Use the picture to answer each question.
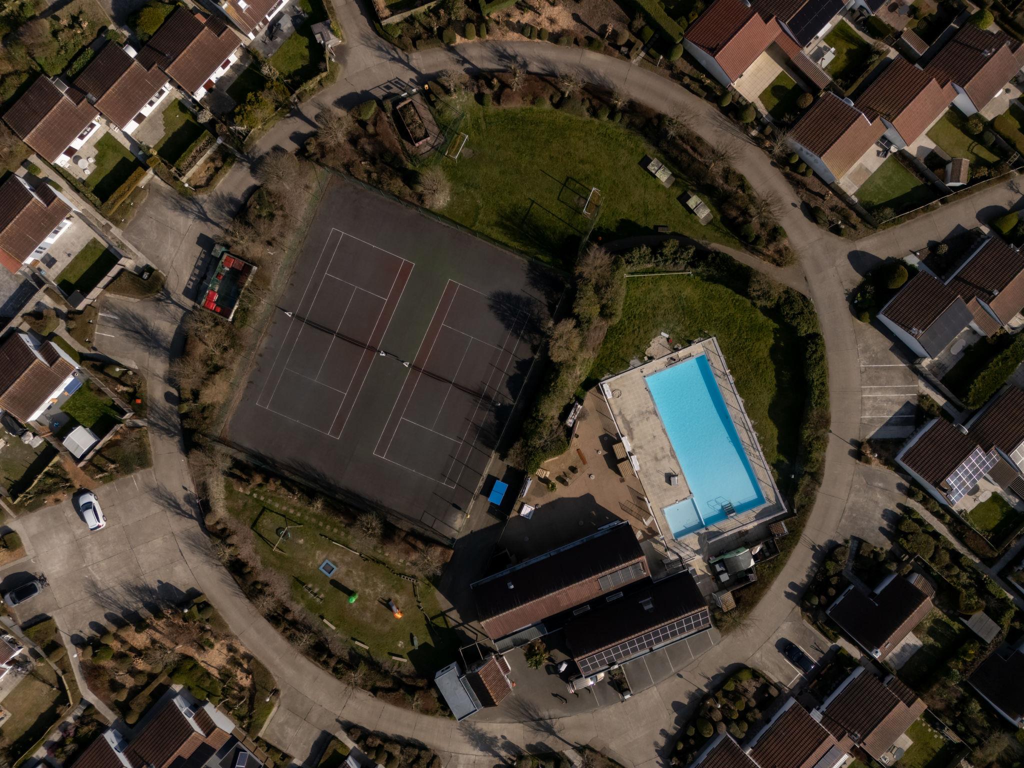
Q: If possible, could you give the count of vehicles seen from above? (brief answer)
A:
4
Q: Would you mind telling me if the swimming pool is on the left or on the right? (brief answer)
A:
right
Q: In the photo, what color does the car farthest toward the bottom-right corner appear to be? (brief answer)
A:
black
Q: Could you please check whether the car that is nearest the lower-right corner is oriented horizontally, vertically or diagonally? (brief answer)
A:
diagonally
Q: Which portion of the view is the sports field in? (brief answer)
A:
top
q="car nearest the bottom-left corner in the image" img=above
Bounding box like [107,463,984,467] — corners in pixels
[6,577,47,605]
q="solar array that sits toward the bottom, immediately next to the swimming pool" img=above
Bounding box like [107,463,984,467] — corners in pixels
[578,610,710,672]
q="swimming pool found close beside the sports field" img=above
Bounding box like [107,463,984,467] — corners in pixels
[601,337,788,561]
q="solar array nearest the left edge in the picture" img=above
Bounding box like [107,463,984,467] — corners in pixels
[174,736,222,768]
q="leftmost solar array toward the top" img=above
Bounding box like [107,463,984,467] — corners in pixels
[788,0,835,48]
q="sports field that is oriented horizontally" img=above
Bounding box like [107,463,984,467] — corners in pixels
[417,99,769,275]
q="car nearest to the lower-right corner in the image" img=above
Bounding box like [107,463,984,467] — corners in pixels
[781,643,814,677]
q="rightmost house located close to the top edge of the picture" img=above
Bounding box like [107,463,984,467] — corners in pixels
[922,23,1024,118]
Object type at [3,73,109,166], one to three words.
house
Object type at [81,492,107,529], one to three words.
car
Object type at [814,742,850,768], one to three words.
solar array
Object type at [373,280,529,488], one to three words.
tennis court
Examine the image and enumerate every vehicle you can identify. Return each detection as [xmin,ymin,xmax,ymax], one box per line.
[6,577,47,605]
[81,492,107,529]
[781,643,814,677]
[564,672,604,697]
